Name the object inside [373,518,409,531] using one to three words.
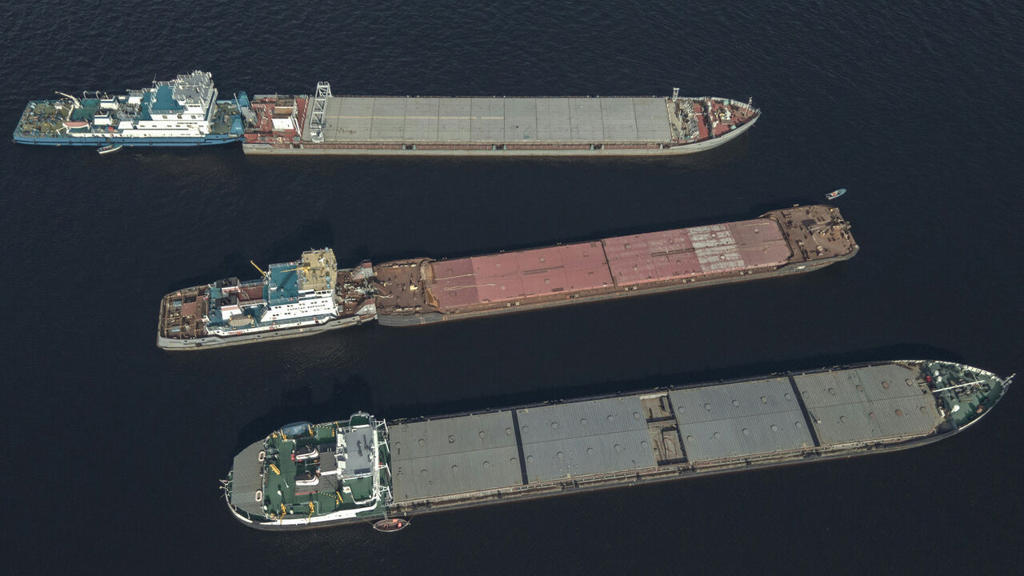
boat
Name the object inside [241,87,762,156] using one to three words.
ship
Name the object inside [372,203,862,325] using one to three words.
ship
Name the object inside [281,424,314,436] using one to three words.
boat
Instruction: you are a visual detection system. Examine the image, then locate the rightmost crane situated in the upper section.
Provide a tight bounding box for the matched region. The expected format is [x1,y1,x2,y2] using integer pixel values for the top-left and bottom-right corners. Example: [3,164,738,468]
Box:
[309,80,334,144]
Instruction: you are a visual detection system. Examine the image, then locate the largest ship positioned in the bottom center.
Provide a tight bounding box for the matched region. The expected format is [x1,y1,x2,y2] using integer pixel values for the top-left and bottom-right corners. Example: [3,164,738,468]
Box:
[219,361,1018,531]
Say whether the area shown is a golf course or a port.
port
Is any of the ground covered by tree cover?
No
